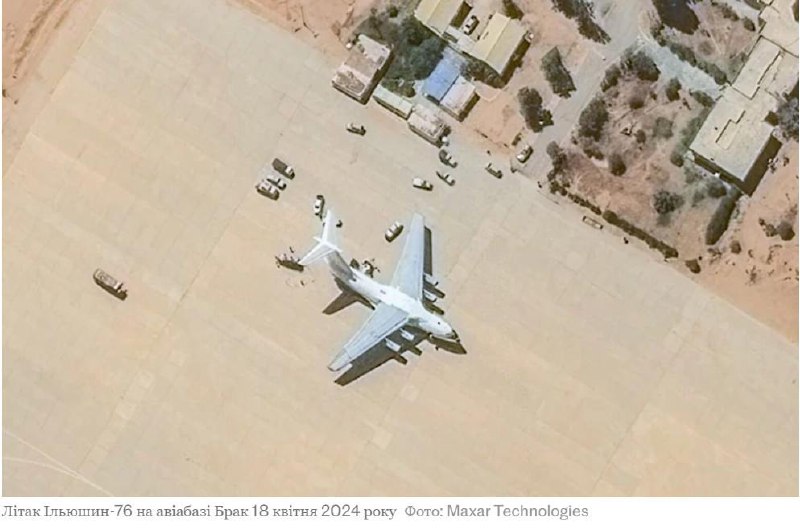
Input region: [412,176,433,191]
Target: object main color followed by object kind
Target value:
white vehicle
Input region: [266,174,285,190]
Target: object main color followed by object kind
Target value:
white vehicle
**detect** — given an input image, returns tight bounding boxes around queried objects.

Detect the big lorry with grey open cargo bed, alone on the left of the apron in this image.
[93,267,125,296]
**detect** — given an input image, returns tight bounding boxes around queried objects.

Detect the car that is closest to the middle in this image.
[384,220,402,240]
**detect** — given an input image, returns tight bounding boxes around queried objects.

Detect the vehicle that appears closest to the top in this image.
[461,15,476,34]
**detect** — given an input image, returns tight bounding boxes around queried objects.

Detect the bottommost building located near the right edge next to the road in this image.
[689,85,777,192]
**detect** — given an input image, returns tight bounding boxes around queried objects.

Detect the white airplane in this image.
[300,209,461,371]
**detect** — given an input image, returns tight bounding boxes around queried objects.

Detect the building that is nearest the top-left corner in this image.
[333,35,391,104]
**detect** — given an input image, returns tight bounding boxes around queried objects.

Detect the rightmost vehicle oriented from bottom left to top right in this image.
[516,144,532,163]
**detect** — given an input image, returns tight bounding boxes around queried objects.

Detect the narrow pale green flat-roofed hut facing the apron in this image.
[373,84,412,120]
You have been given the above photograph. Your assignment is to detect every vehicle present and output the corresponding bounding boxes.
[484,163,503,179]
[93,267,125,296]
[412,176,433,191]
[516,144,532,163]
[314,195,323,217]
[437,148,457,167]
[256,178,279,199]
[384,220,402,240]
[461,15,476,34]
[270,156,296,180]
[266,174,285,190]
[346,121,366,135]
[274,252,302,270]
[437,170,455,187]
[337,220,343,229]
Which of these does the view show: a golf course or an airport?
airport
